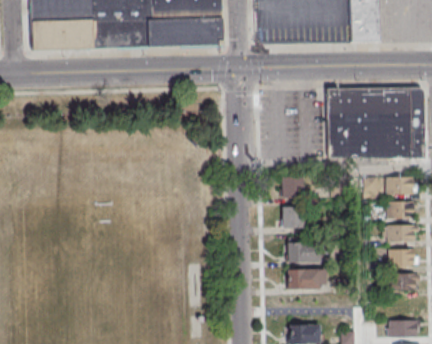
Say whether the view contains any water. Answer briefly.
No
